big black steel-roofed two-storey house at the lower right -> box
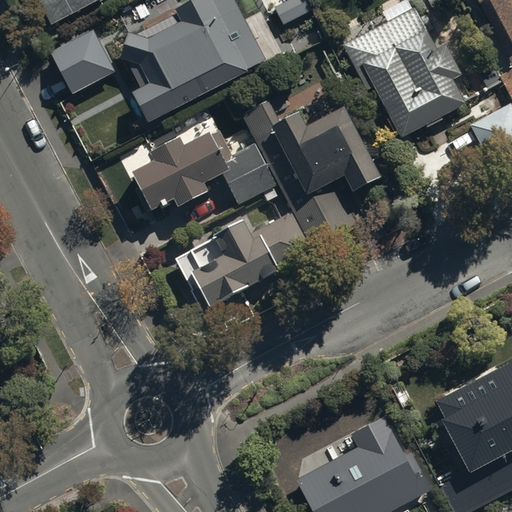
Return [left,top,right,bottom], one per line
[436,360,512,512]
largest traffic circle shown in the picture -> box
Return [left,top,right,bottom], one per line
[124,396,173,446]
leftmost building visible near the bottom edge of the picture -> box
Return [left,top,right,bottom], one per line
[296,416,431,512]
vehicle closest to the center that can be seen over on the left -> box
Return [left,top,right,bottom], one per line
[186,198,216,220]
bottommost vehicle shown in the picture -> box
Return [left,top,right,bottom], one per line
[450,274,482,300]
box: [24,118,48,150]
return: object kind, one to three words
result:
car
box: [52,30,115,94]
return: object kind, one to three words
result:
building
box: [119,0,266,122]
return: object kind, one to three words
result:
house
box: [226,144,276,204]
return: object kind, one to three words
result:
shed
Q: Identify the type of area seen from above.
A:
residential area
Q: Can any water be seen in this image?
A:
No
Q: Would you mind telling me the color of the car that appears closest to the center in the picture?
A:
red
